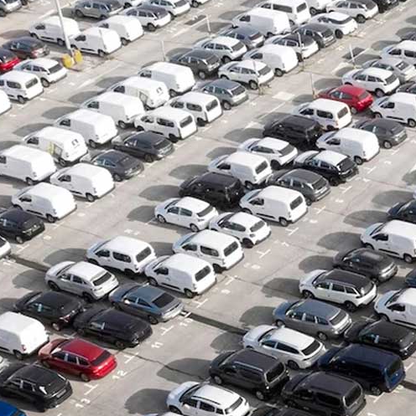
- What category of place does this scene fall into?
parking lot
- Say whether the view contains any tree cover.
No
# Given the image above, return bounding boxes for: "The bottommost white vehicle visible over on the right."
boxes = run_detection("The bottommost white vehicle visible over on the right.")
[231,321,318,367]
